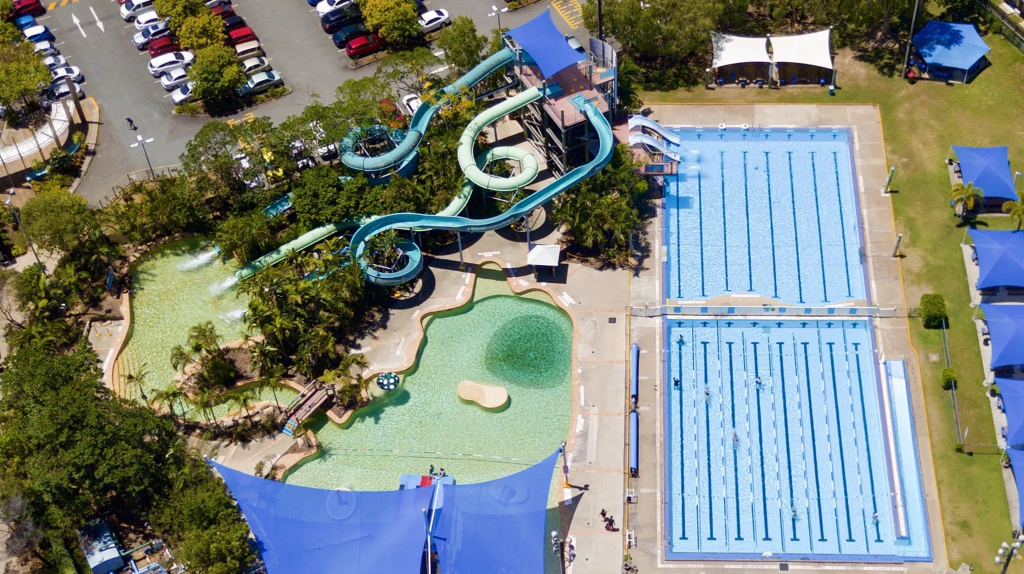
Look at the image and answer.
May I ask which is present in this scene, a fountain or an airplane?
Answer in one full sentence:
The image shows a fountain.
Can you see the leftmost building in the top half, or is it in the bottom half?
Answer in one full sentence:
The leftmost building is in the bottom half of the image.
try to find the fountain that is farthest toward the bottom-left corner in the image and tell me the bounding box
[375,372,401,396]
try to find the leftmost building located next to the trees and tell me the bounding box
[77,512,136,574]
